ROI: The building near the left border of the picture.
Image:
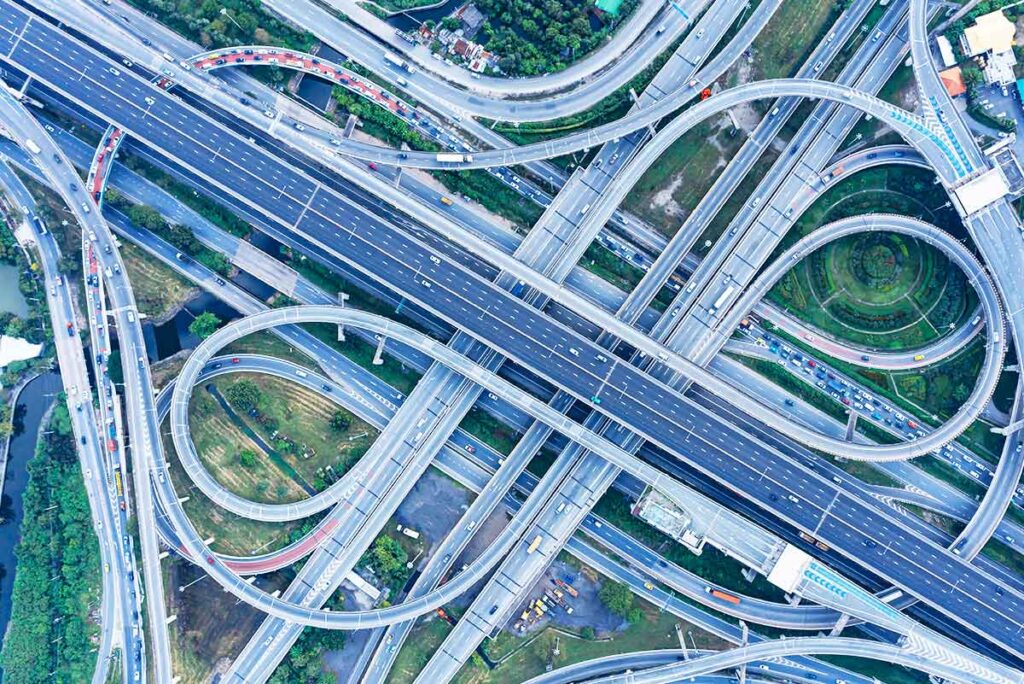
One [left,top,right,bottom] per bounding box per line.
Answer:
[0,335,48,368]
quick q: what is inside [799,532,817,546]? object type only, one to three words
vehicle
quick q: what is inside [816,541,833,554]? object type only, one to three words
vehicle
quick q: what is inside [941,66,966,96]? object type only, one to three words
building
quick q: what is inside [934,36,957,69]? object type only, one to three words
building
